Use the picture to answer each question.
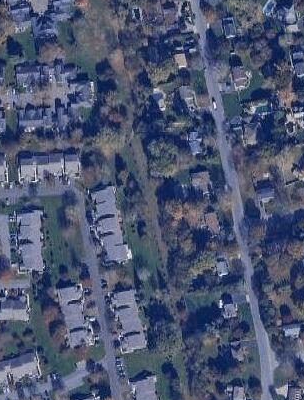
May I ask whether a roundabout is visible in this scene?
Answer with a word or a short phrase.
No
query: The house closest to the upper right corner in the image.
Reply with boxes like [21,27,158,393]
[279,5,297,29]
